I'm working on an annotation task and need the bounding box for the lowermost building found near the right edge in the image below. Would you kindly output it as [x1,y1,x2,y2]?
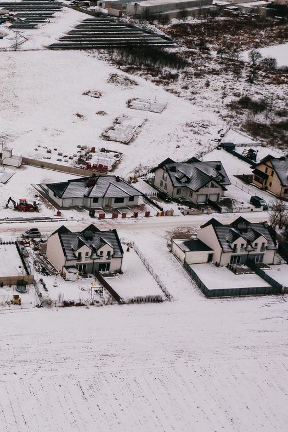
[194,214,281,271]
